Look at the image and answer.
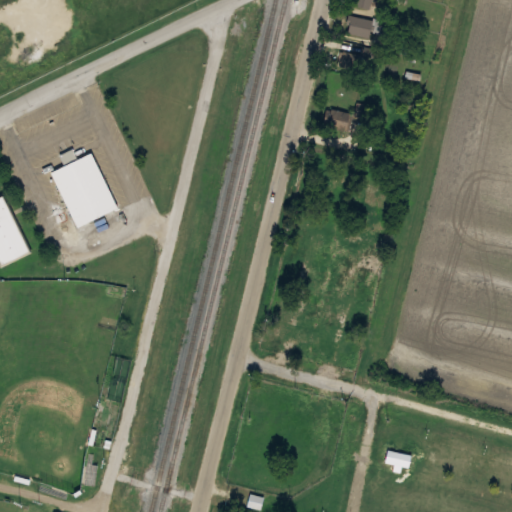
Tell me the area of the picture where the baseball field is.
bottom left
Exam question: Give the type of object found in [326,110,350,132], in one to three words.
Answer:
house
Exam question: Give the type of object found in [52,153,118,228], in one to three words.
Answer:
shed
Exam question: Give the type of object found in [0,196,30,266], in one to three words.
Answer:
shed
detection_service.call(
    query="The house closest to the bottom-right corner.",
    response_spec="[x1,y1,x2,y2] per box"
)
[386,450,412,474]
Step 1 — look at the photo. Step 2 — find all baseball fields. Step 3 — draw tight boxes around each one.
[0,280,126,495]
